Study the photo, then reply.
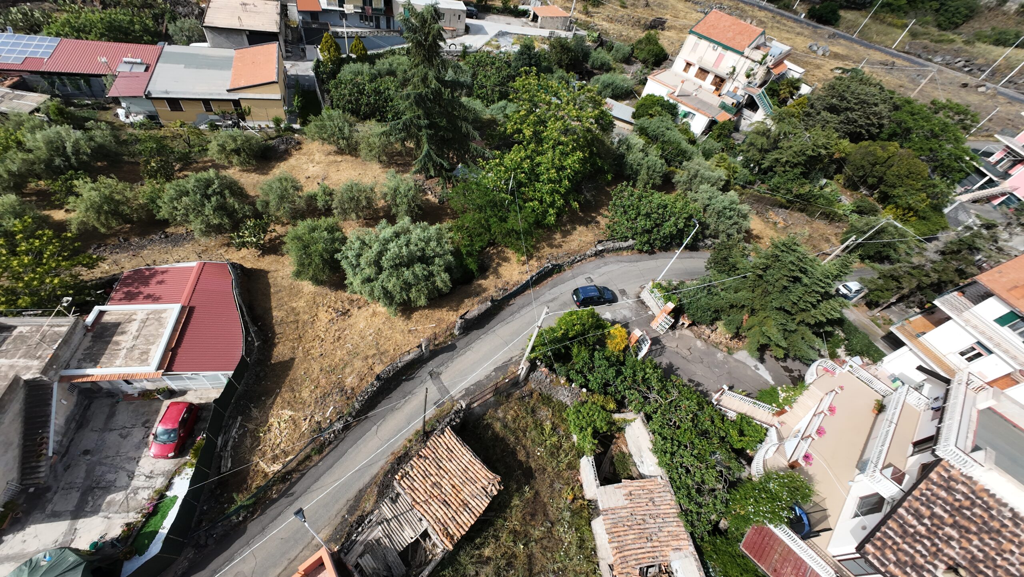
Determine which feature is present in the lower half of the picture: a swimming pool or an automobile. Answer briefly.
automobile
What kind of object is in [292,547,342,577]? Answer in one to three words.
building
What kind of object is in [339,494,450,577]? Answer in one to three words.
shed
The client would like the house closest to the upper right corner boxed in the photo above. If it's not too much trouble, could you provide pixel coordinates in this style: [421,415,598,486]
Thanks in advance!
[956,120,1024,228]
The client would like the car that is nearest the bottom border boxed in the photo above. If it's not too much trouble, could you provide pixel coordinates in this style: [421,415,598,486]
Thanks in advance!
[143,398,203,465]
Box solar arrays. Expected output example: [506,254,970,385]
[0,33,60,62]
